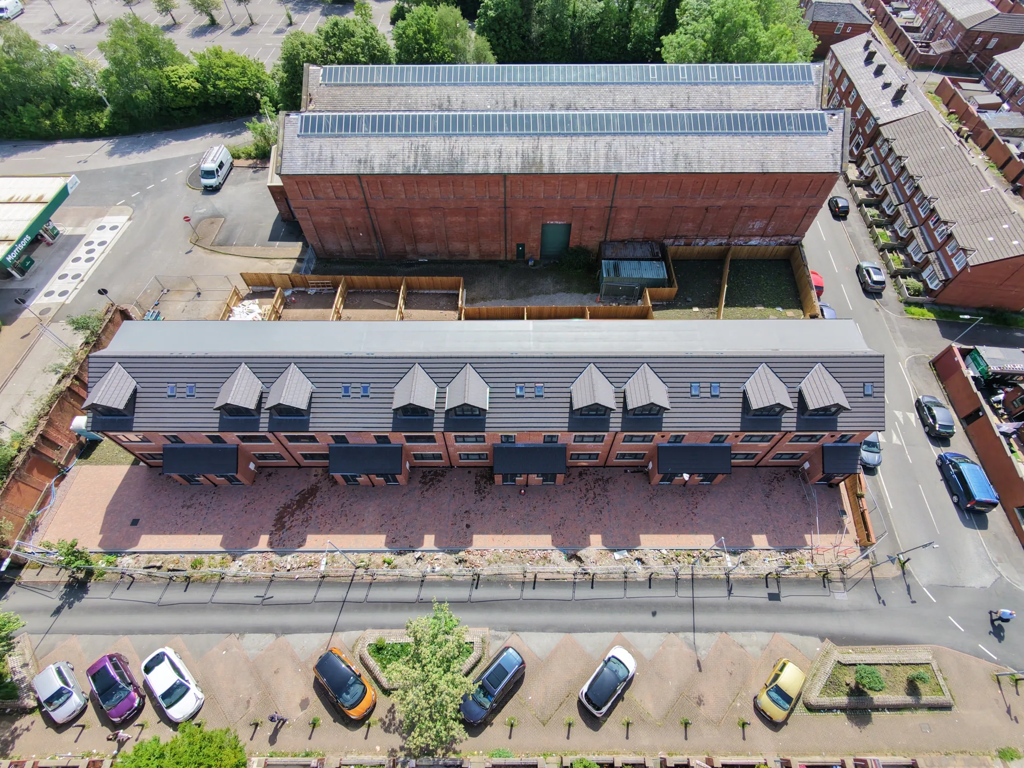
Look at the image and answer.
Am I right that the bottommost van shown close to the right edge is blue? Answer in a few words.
Yes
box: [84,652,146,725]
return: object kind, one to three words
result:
car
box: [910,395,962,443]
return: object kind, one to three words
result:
car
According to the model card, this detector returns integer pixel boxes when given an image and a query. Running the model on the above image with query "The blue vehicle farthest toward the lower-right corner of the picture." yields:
[933,456,1008,515]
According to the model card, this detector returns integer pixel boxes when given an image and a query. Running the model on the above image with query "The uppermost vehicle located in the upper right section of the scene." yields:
[826,196,852,221]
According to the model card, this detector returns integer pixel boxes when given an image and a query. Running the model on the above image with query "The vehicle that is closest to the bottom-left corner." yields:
[30,654,91,728]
